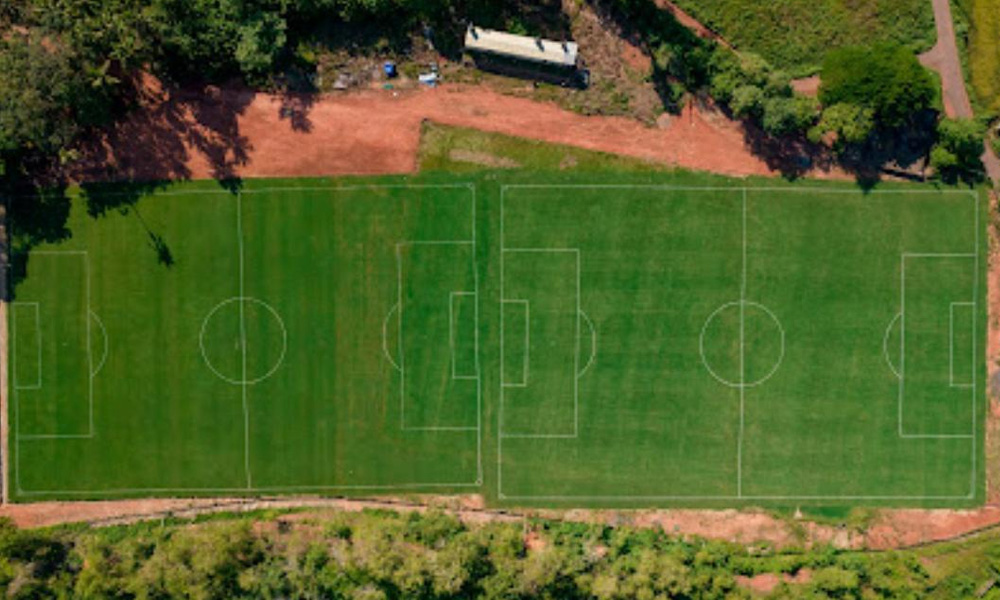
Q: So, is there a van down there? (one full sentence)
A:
No, there isn't any van down there.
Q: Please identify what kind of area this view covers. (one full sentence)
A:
It's a sports ground.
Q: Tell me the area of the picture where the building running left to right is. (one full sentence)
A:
Look in the top portion of the view to spot the building running left to right.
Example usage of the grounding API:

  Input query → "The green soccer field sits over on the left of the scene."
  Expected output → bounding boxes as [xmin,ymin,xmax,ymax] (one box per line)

[8,171,488,507]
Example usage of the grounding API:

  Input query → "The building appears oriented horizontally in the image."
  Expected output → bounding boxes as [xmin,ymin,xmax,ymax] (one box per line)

[463,23,580,81]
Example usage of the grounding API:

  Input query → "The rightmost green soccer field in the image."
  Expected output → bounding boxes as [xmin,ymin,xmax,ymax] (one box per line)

[488,170,989,519]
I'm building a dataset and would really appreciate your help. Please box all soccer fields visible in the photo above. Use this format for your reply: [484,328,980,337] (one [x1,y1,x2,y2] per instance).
[488,170,989,519]
[8,171,488,507]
